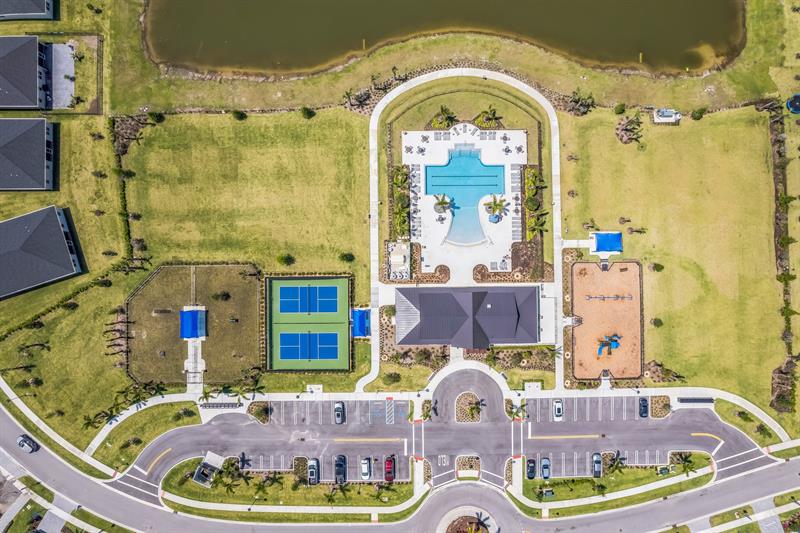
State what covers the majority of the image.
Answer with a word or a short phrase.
grass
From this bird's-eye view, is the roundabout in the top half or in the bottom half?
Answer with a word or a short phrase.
bottom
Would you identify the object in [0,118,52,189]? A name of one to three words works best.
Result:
house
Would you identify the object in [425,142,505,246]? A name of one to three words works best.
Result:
swimming pool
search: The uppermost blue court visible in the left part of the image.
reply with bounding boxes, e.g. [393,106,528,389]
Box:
[280,284,338,314]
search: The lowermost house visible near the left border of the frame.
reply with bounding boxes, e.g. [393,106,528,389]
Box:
[0,206,80,298]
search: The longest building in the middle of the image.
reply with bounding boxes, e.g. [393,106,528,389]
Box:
[395,287,538,350]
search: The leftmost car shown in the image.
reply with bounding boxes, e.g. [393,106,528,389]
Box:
[19,433,39,453]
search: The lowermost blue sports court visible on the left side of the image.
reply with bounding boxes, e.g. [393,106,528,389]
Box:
[280,331,338,362]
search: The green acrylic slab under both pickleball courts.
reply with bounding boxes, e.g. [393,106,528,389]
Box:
[269,277,348,370]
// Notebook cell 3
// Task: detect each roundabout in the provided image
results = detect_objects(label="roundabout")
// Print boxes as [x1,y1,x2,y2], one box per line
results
[411,481,523,533]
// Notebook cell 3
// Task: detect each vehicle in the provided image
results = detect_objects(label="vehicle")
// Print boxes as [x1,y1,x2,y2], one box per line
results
[552,399,562,420]
[526,457,536,478]
[336,456,346,481]
[309,460,319,481]
[361,457,370,478]
[637,396,648,417]
[384,456,395,479]
[591,452,602,478]
[19,433,39,453]
[334,401,345,423]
